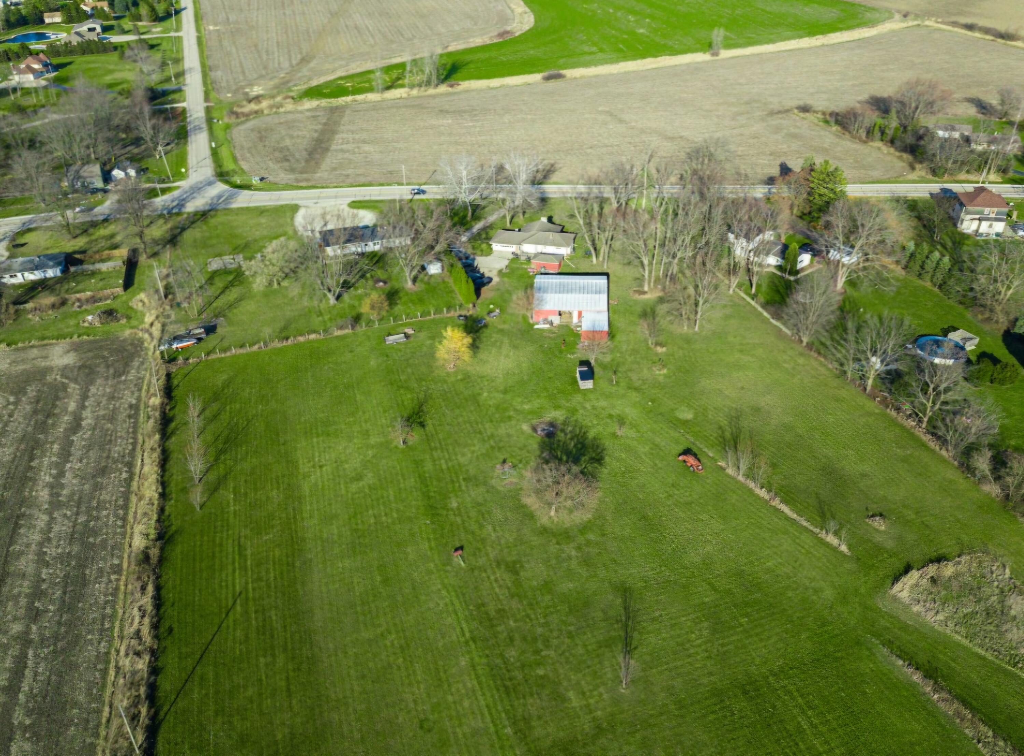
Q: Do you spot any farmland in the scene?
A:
Yes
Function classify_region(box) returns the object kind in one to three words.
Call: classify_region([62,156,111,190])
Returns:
shed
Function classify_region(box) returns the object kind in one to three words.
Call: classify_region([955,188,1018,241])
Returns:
house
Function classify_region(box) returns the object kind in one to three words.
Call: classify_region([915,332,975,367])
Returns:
swimming pool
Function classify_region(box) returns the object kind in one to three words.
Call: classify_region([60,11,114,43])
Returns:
house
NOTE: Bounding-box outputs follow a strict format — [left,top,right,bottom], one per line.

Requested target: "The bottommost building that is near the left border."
[0,248,67,287]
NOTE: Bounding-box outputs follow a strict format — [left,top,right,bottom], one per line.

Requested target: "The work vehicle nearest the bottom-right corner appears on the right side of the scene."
[675,452,708,473]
